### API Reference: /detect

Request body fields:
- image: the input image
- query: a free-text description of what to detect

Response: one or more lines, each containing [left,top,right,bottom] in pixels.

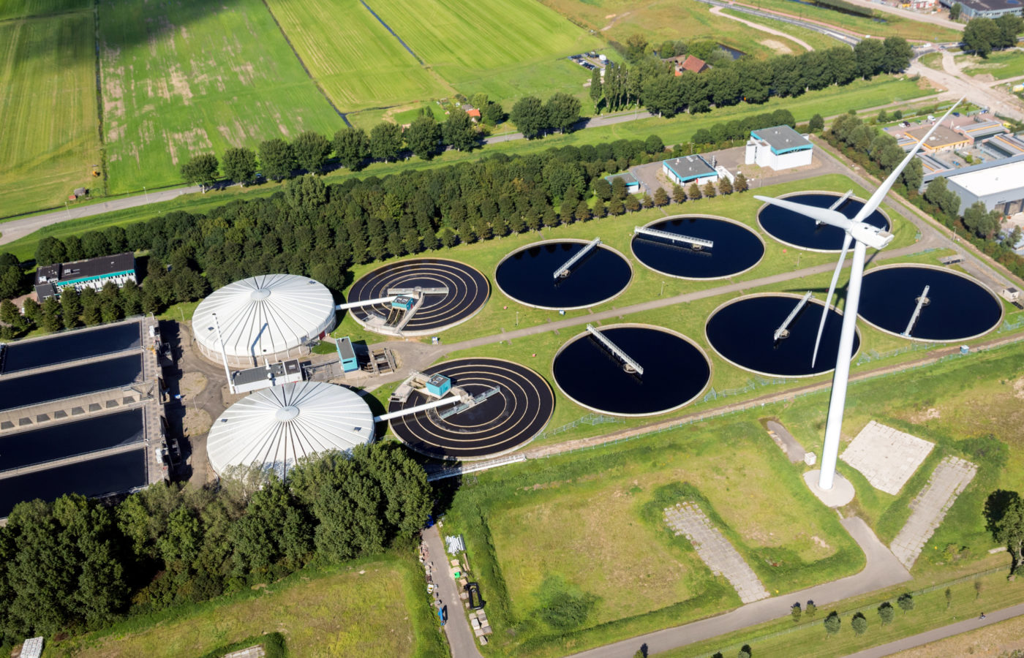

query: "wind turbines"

[751,98,959,495]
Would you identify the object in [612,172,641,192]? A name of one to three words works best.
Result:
shed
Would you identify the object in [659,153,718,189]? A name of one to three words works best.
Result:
building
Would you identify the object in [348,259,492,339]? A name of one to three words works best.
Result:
storage tank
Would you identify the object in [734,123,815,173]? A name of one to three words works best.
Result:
building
